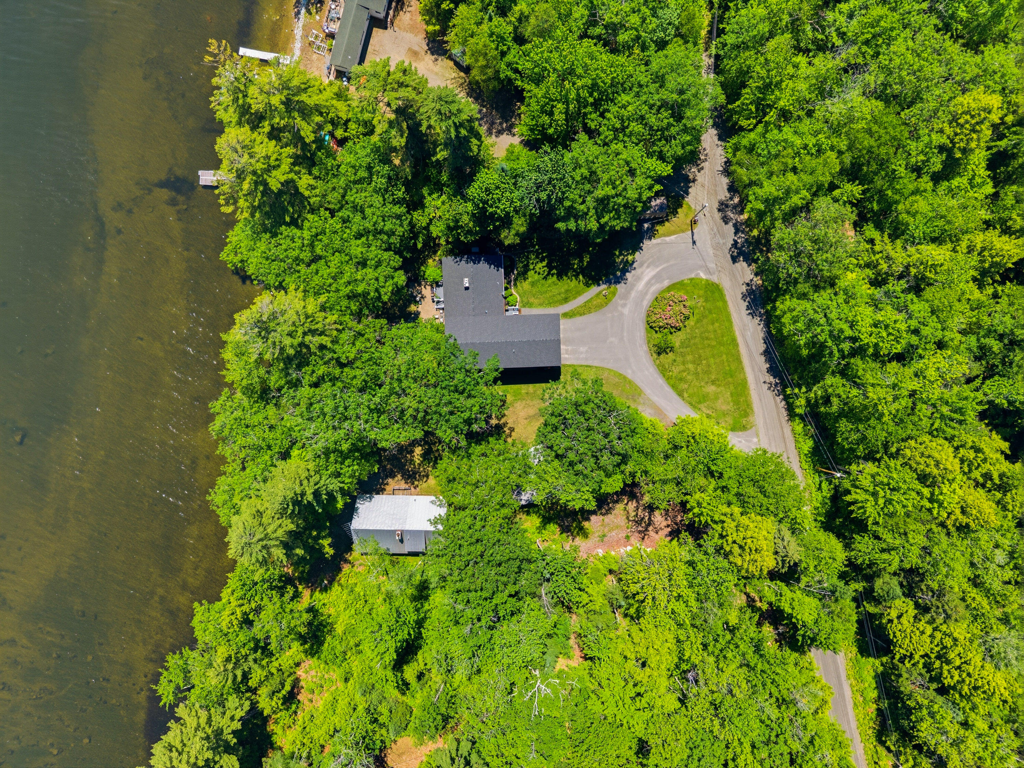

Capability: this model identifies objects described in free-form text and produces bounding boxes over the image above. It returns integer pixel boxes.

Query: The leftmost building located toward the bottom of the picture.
[351,495,447,554]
